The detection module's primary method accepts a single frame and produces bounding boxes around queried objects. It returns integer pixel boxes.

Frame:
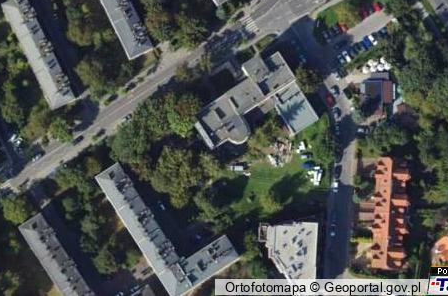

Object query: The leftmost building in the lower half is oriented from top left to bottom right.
[19,214,90,296]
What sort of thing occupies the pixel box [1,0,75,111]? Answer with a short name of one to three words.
building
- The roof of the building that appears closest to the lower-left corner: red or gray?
gray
